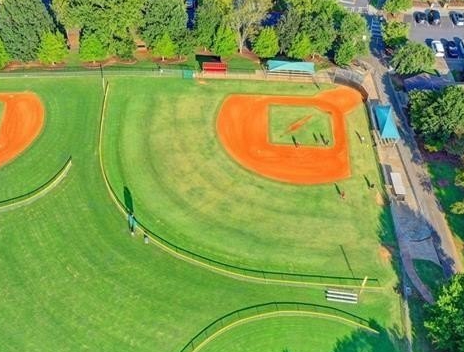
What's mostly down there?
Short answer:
grass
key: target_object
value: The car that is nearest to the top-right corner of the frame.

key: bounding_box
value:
[448,9,464,28]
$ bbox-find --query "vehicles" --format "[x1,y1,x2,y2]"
[448,9,464,28]
[412,12,427,27]
[458,41,464,57]
[444,42,460,59]
[430,41,445,58]
[424,9,441,27]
